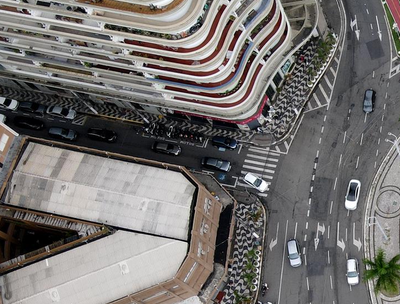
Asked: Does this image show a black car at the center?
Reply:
Yes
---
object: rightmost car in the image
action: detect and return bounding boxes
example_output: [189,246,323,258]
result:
[363,89,376,114]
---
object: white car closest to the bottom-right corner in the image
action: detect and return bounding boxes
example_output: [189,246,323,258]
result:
[346,259,361,286]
